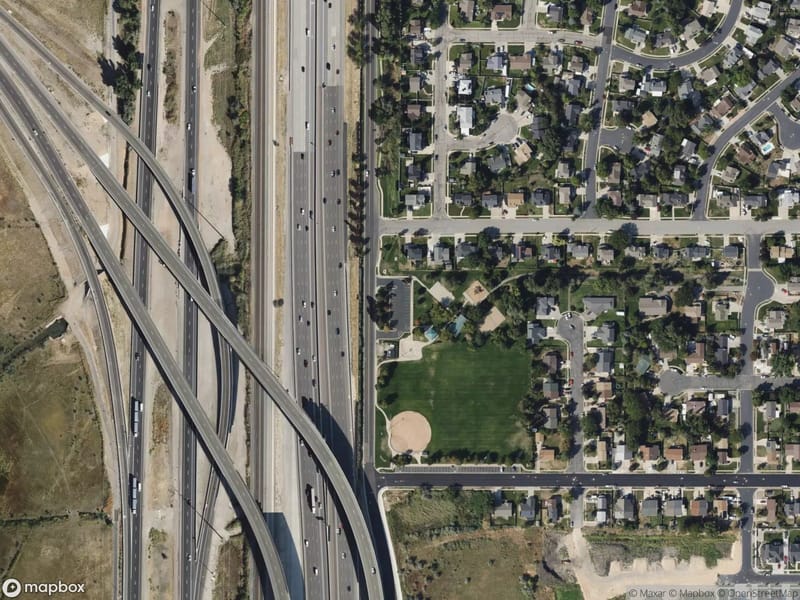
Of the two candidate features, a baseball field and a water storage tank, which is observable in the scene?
baseball field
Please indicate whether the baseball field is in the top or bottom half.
bottom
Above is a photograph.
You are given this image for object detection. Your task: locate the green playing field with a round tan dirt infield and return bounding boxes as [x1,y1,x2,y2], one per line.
[378,345,530,455]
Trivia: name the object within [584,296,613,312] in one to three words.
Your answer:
house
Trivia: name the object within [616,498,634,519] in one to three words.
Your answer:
house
